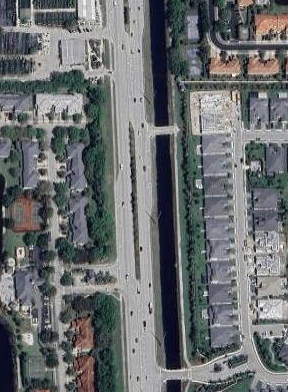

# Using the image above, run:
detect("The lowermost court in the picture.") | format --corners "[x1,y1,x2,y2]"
[27,354,48,379]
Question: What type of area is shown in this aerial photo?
residential area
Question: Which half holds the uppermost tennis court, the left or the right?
left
